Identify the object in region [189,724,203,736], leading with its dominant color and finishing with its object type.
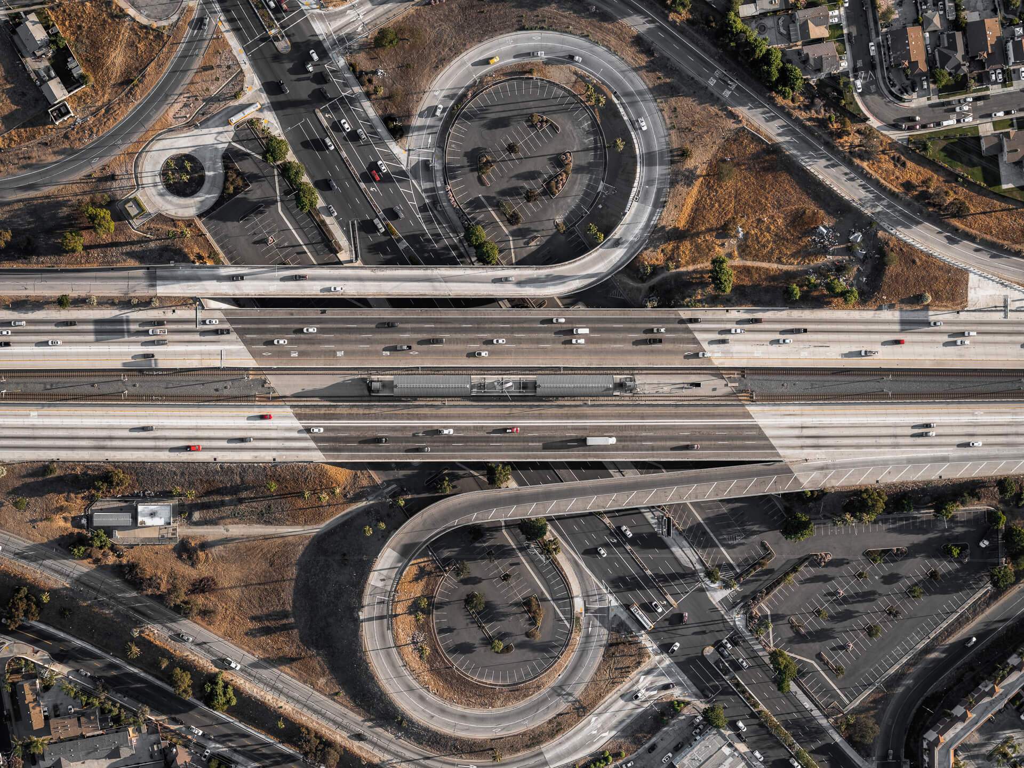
white vehicle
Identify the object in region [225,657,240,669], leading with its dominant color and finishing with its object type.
white vehicle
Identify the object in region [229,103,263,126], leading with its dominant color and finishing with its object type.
white bus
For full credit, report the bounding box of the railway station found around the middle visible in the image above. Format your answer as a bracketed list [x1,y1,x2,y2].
[369,375,636,400]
